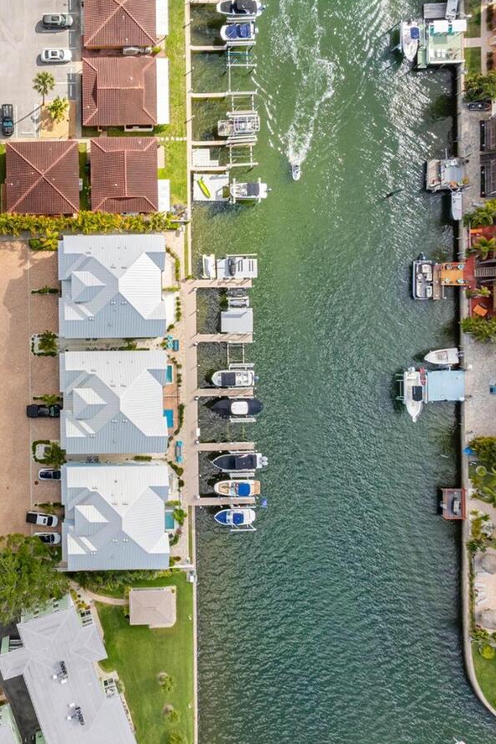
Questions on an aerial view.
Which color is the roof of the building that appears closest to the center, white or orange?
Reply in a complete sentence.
The roof of the building that appears closest to the center is white.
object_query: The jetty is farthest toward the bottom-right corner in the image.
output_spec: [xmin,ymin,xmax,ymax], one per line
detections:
[437,486,466,520]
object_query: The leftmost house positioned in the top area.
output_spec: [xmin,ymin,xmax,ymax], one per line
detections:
[4,139,80,215]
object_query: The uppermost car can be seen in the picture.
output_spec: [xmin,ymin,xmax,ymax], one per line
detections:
[42,15,72,31]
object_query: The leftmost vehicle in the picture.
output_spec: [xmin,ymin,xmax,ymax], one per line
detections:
[0,102,16,140]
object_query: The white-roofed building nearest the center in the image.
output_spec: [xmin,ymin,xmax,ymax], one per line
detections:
[216,309,253,332]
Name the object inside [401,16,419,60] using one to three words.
boat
